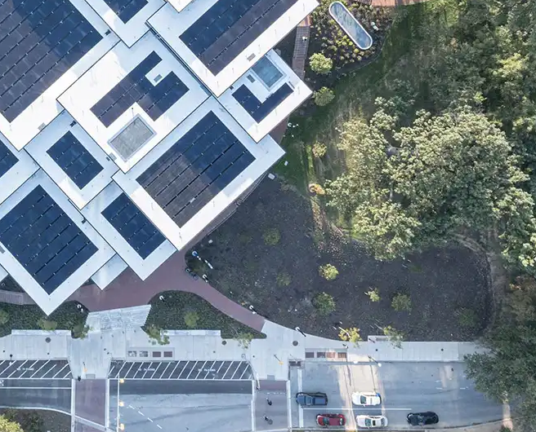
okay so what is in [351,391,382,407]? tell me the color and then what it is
white car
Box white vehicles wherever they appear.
[351,391,382,407]
[354,414,388,430]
